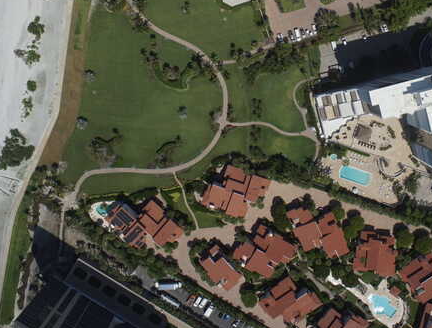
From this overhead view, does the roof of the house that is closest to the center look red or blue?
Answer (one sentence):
The roof of the house that is closest to the center looks red in the image.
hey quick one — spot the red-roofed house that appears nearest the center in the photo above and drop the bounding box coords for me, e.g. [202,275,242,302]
[202,163,271,217]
